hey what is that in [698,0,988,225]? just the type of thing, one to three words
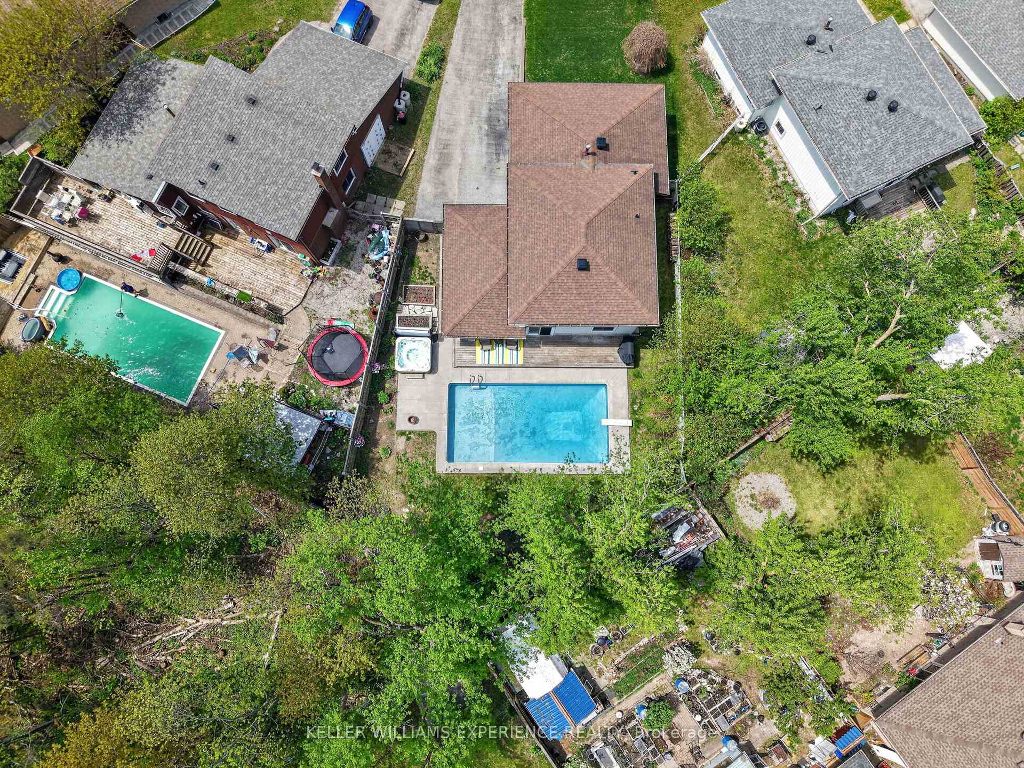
house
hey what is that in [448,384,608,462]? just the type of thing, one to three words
swimming pool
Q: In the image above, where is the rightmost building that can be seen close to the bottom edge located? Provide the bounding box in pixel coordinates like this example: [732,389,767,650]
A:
[864,583,1024,768]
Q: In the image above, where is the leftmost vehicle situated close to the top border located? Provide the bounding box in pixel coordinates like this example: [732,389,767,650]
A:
[335,0,380,44]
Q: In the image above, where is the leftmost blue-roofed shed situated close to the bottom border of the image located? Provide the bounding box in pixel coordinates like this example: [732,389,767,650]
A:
[524,662,599,742]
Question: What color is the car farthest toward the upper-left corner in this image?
blue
